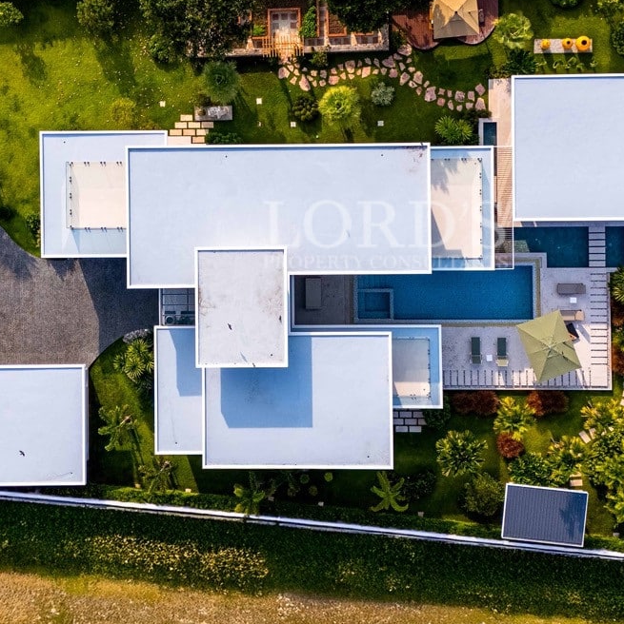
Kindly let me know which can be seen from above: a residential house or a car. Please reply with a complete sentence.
Looking from above, you can make out a residential house.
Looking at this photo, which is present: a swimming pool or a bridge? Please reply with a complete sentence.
Visible in the photo is a swimming pool.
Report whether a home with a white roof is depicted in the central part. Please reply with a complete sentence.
Yes, a home with a white roof is visible in the central part.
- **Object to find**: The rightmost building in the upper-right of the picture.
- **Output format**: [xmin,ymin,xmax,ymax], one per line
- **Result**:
[511,73,624,221]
